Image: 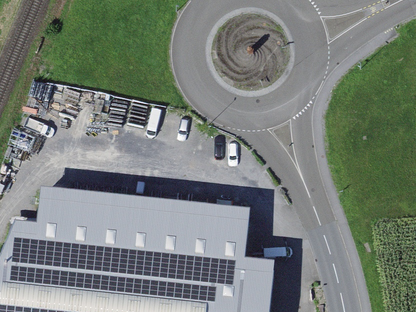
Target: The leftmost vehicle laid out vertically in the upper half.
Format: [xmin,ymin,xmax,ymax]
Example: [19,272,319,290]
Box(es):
[146,106,162,138]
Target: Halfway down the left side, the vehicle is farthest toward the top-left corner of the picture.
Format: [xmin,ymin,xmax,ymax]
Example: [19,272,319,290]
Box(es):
[24,118,56,139]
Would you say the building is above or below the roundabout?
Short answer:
below it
